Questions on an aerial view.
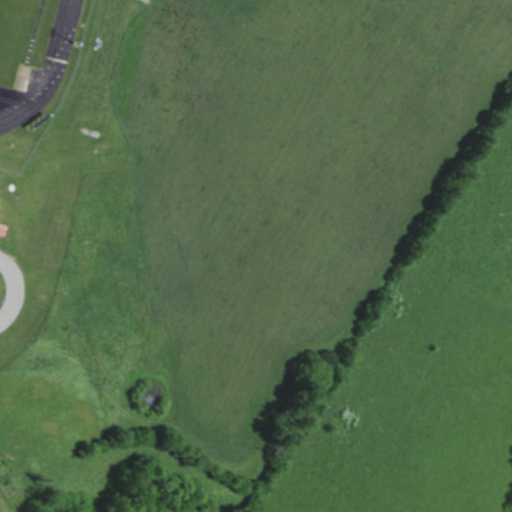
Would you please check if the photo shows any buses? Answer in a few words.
No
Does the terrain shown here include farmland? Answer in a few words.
Yes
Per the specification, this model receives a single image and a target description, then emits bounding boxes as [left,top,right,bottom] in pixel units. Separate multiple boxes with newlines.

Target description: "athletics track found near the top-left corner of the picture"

[0,0,82,134]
